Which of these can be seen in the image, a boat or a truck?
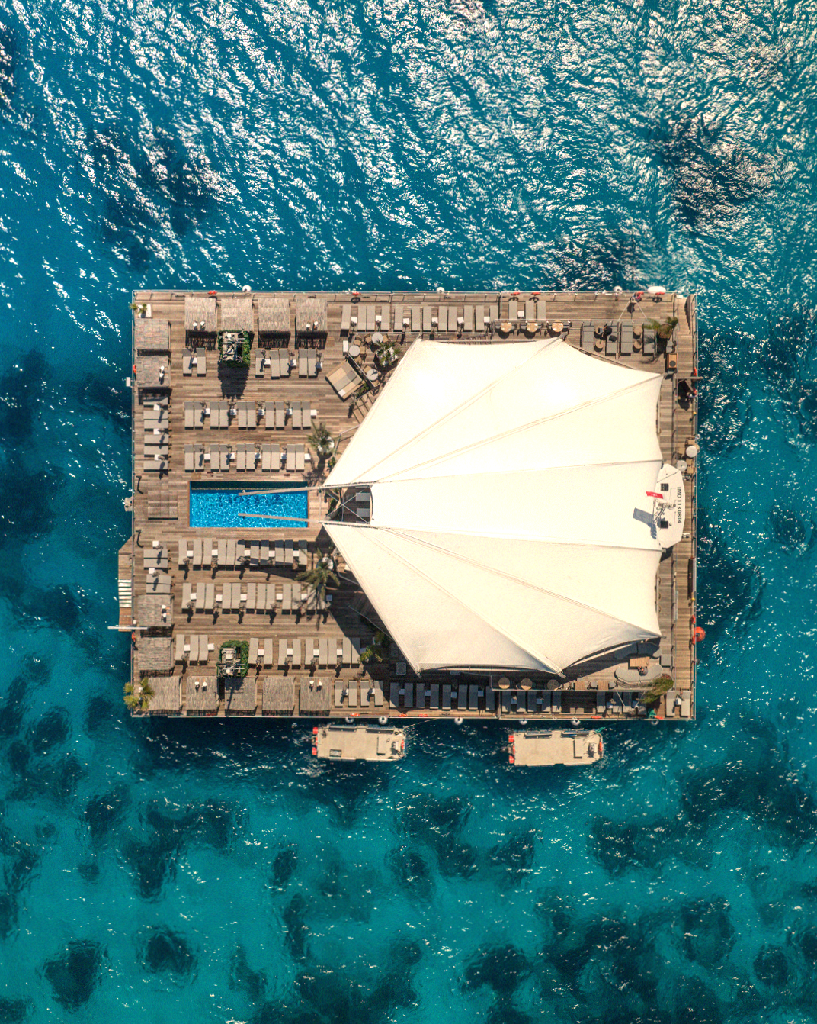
boat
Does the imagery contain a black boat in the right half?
No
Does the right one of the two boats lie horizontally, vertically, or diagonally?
horizontally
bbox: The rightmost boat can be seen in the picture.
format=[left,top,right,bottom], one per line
[505,727,605,765]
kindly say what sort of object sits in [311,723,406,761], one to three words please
boat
